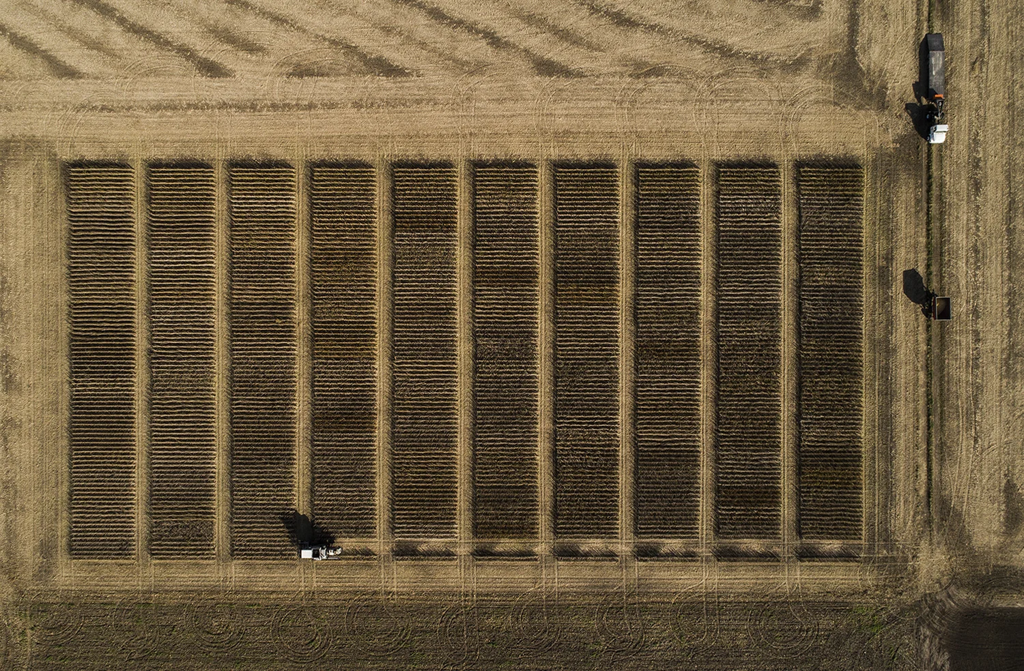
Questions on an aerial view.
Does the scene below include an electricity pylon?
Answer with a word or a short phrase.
No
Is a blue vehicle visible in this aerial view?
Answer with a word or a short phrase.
No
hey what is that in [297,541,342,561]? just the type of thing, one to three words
work vehicle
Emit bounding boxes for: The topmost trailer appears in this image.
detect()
[927,35,944,117]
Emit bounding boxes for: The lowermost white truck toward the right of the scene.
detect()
[926,108,950,145]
